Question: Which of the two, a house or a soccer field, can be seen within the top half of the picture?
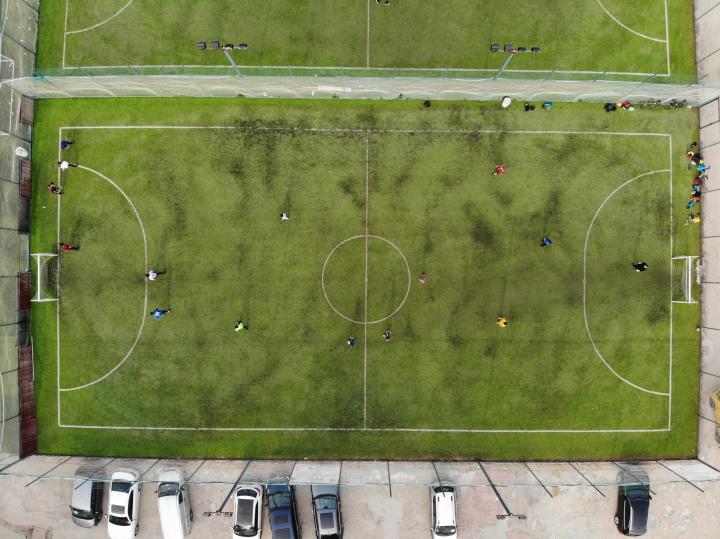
soccer field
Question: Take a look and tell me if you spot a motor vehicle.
Yes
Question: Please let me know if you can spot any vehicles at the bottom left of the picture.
Yes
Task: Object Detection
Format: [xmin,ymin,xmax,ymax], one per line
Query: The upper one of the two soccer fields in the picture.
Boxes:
[34,0,700,106]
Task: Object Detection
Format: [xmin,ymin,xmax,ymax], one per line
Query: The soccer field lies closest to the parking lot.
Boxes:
[34,97,700,459]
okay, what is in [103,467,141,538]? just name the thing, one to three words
car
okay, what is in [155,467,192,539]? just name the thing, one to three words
van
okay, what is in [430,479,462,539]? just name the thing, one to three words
car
